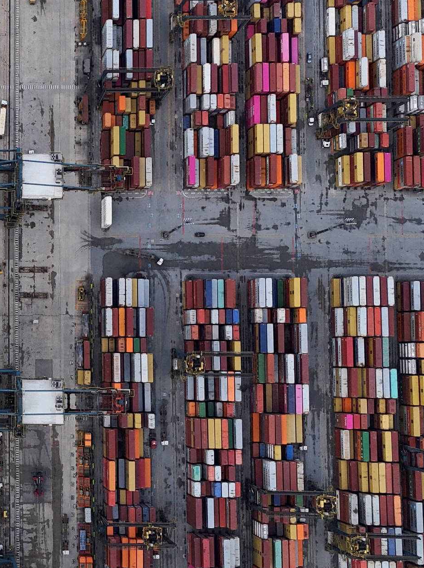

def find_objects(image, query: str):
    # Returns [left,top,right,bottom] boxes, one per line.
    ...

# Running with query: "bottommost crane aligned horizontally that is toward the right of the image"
[320,518,420,562]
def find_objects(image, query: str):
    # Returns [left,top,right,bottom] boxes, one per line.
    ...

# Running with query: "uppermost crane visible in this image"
[166,0,252,44]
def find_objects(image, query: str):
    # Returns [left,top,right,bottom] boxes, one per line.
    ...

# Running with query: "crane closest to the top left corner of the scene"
[91,67,173,113]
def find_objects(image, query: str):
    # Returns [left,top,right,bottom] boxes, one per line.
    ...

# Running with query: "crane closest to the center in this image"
[167,346,255,381]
